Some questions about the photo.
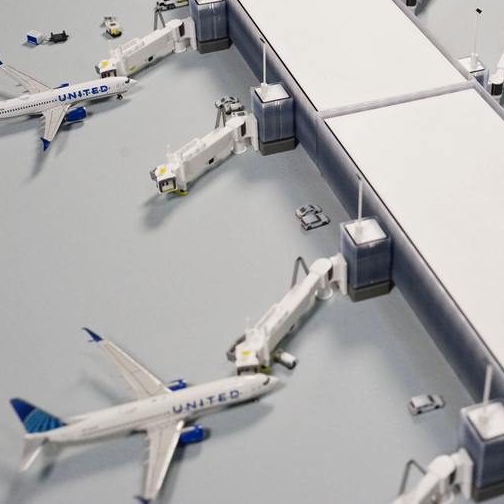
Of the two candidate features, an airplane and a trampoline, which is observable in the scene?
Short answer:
airplane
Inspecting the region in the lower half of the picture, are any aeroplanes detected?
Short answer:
Yes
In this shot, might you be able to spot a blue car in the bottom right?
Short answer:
No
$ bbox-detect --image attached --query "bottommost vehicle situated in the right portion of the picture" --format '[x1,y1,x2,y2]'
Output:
[409,393,443,413]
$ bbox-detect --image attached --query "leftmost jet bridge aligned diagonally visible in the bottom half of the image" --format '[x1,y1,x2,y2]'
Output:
[227,251,350,376]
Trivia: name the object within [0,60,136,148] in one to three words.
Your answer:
airplane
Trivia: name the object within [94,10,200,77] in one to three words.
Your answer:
jet bridge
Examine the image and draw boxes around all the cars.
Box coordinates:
[302,213,330,229]
[215,96,239,108]
[409,393,443,413]
[295,204,323,218]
